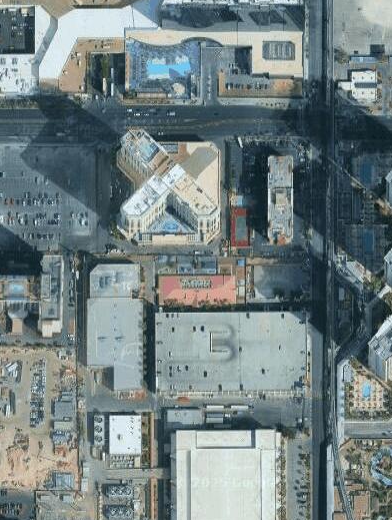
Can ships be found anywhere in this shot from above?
No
